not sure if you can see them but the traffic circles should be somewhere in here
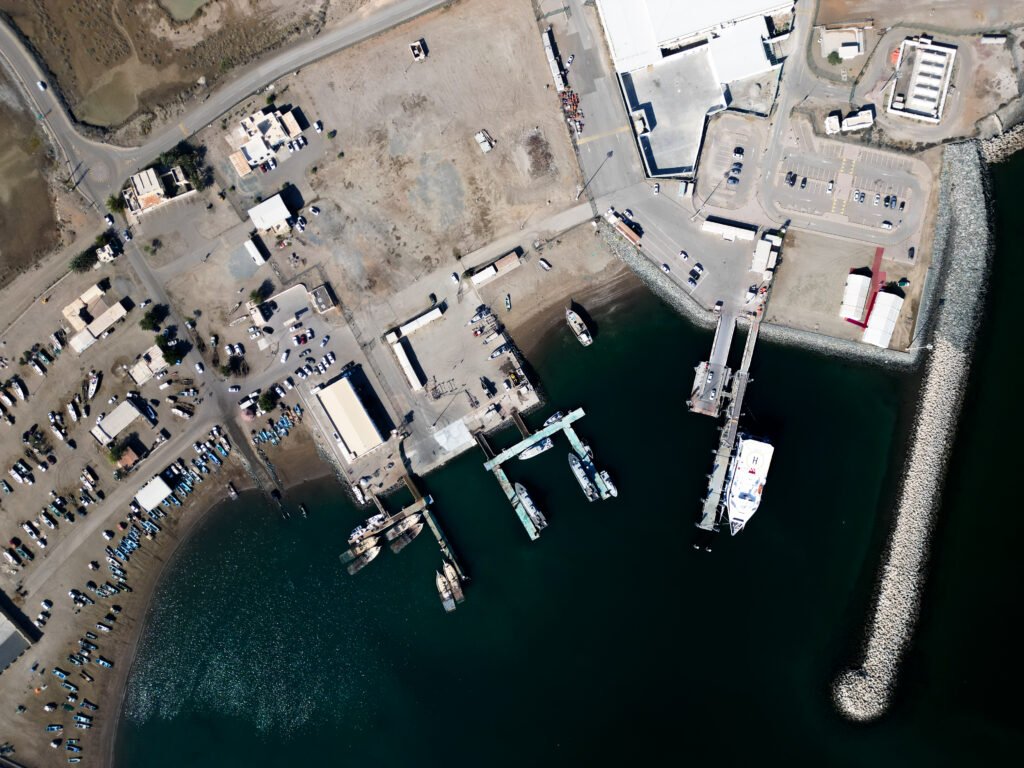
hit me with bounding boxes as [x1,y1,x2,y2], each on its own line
[70,143,136,197]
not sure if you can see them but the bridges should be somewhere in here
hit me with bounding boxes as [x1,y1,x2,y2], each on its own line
[709,314,736,366]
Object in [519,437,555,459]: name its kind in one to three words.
boat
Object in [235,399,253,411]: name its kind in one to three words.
vehicle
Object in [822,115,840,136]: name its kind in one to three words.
house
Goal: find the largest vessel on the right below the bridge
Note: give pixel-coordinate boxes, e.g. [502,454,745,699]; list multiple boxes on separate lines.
[722,432,774,536]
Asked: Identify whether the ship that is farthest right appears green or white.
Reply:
white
